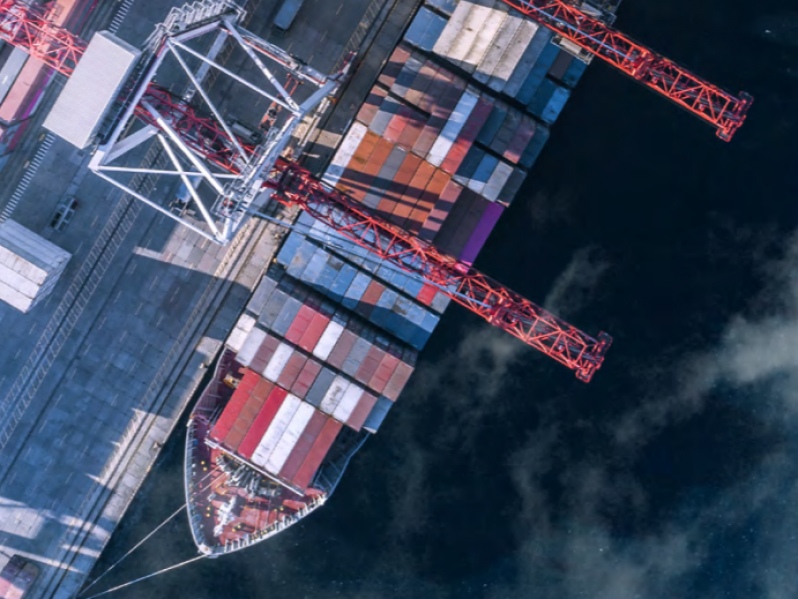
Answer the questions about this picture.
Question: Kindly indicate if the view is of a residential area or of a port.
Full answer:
This looks like a port.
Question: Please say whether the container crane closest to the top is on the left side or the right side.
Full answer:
It is on the right.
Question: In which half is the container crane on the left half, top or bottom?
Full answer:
You can find the container crane on the left half in the top half.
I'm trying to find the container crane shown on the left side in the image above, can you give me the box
[0,0,613,377]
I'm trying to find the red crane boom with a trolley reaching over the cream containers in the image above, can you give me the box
[495,0,747,139]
